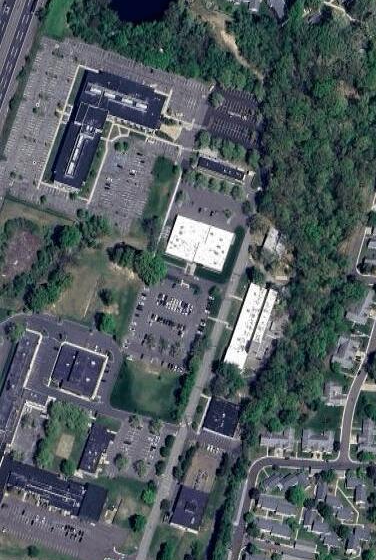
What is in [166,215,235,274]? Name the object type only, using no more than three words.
building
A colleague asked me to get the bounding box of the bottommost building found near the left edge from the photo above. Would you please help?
[0,457,85,515]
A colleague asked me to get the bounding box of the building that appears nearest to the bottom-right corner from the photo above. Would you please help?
[345,523,371,555]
